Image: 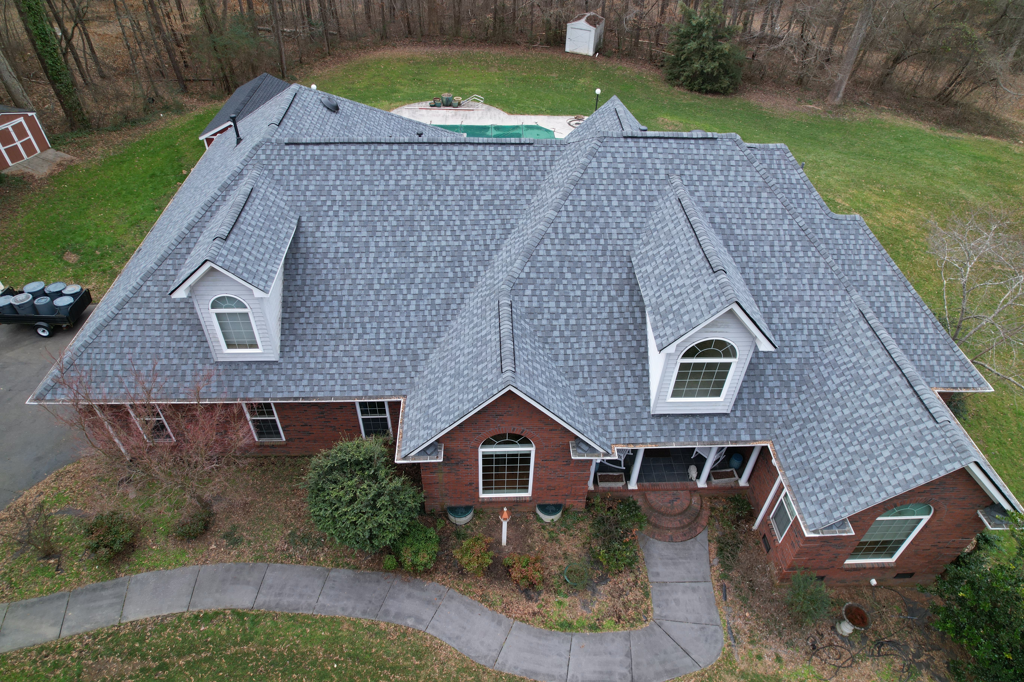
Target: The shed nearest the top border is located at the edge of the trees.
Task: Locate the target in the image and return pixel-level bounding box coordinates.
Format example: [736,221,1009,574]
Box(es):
[565,11,607,56]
